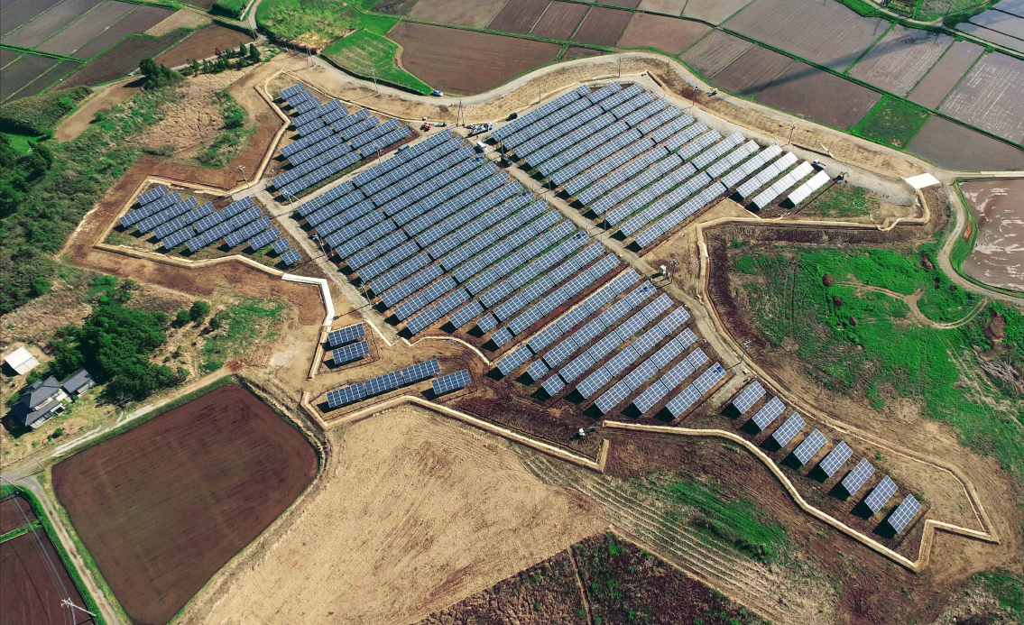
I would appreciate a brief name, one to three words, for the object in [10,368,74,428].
house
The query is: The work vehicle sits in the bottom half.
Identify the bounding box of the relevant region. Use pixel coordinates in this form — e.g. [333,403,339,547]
[575,426,594,439]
